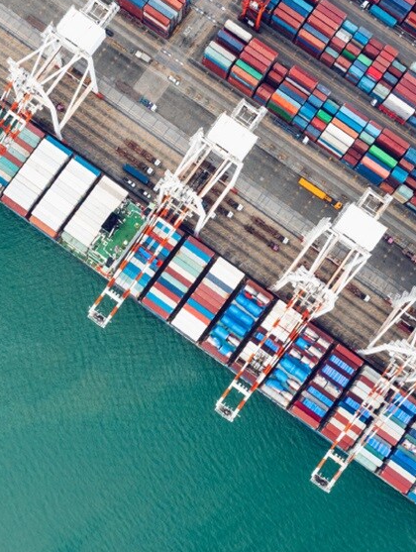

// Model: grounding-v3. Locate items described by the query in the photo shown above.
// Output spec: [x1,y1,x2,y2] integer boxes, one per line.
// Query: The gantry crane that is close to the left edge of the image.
[0,0,122,165]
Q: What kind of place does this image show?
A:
port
